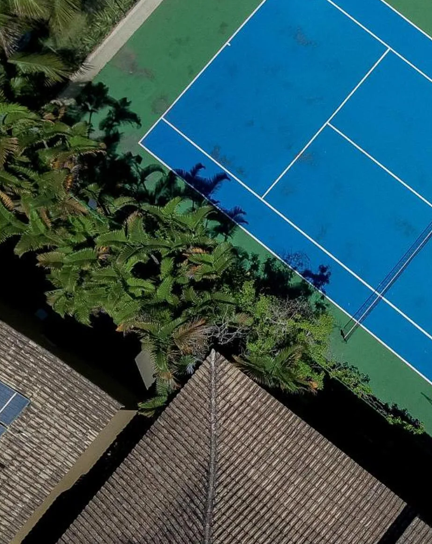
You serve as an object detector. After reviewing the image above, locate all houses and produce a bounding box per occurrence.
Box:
[49,347,430,544]
[0,261,163,544]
